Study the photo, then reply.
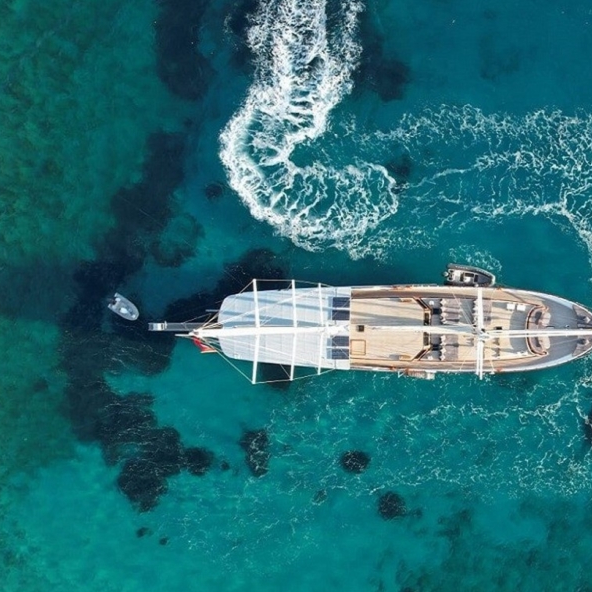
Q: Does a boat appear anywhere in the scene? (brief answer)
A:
Yes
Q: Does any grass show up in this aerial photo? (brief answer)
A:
No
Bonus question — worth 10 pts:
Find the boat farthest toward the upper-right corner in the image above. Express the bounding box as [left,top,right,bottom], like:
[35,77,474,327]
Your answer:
[444,265,495,286]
